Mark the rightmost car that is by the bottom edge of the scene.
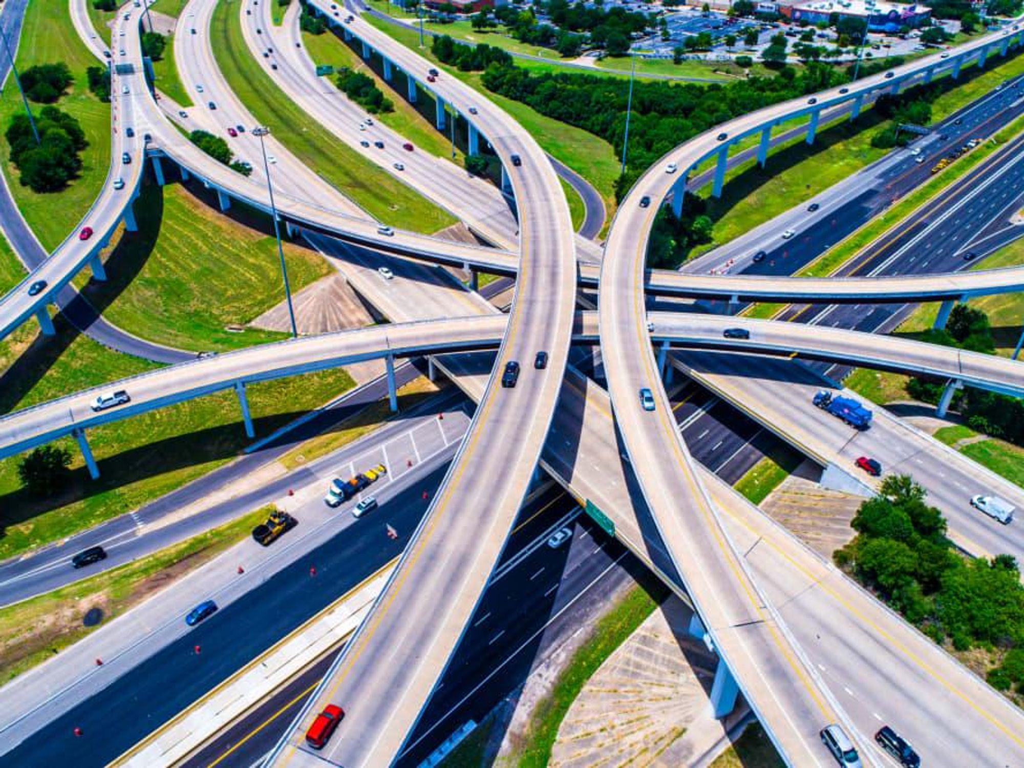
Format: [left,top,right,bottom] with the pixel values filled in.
[871,724,920,768]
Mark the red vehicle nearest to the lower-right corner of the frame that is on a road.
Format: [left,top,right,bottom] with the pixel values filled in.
[854,458,884,477]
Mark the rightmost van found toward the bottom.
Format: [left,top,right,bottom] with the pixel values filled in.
[968,497,1020,527]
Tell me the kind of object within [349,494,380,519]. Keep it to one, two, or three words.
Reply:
vehicle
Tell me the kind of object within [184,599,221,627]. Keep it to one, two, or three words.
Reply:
car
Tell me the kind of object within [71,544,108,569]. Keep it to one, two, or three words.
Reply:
car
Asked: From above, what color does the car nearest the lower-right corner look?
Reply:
black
